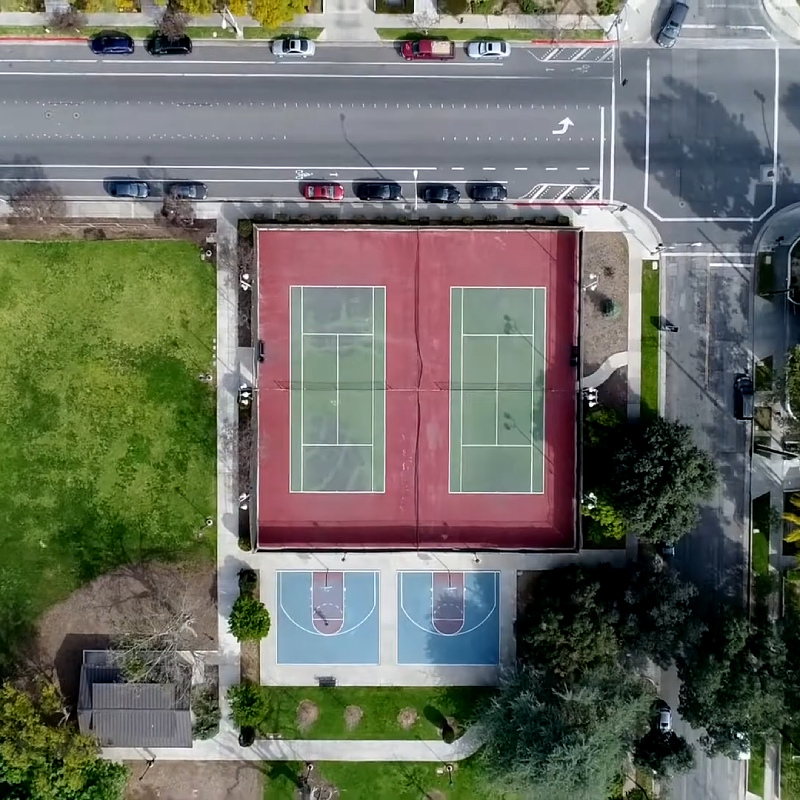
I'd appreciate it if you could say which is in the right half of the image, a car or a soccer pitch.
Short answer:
car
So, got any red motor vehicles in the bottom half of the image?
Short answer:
No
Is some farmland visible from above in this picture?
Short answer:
No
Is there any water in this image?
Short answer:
No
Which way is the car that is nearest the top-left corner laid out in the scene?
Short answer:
horizontally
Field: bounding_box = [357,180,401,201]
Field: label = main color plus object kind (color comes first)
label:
black car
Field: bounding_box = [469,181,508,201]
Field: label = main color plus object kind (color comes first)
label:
black car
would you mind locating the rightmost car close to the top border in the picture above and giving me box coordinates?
[658,0,691,45]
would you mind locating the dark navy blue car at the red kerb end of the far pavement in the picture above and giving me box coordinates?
[92,31,134,52]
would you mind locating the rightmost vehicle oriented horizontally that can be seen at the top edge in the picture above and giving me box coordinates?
[467,38,510,59]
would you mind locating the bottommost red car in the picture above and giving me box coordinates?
[305,181,344,200]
